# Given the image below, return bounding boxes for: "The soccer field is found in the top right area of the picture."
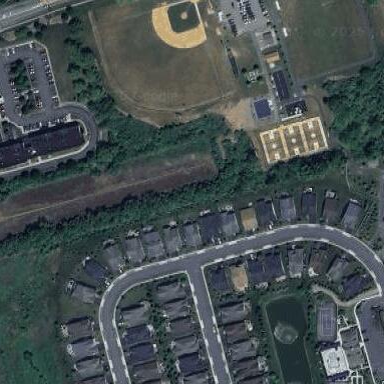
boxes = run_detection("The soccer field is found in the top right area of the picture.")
[289,0,372,81]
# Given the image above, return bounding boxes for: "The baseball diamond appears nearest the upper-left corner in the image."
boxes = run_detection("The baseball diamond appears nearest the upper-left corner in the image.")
[102,0,235,110]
